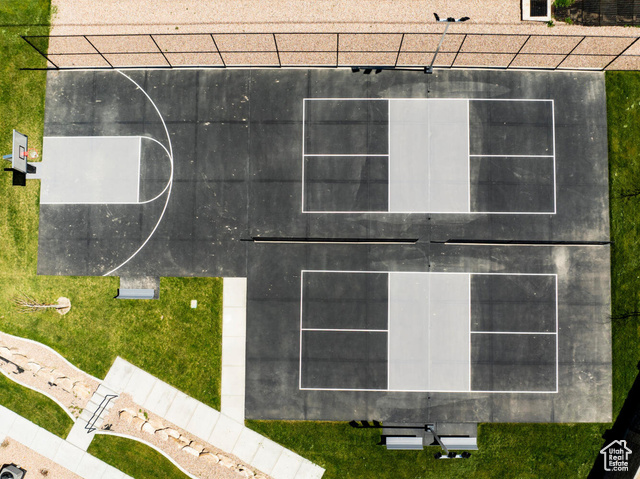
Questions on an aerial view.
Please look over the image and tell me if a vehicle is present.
No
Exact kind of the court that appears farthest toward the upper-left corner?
basketball court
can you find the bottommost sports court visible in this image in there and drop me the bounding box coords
[245,241,612,423]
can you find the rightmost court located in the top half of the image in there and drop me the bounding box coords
[248,68,609,243]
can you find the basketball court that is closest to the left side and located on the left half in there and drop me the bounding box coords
[37,68,248,278]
